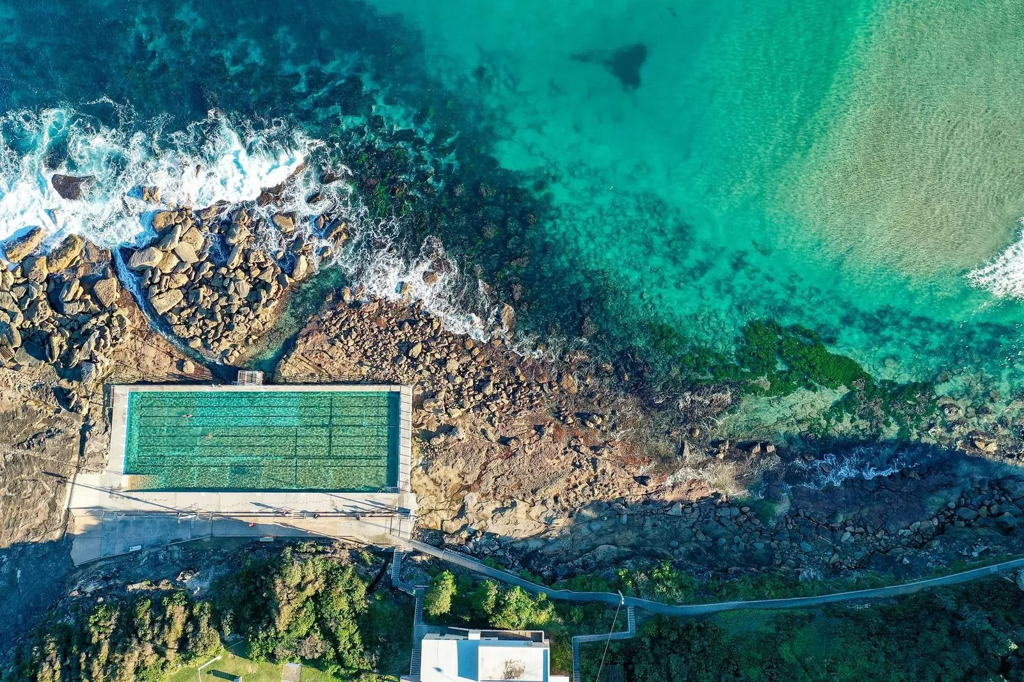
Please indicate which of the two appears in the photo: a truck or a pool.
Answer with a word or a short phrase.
pool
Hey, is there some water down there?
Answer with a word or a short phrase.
Yes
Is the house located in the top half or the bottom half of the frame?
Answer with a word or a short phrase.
bottom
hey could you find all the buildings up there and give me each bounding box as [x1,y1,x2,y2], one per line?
[419,617,569,682]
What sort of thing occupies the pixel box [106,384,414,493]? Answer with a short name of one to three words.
swimming pool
